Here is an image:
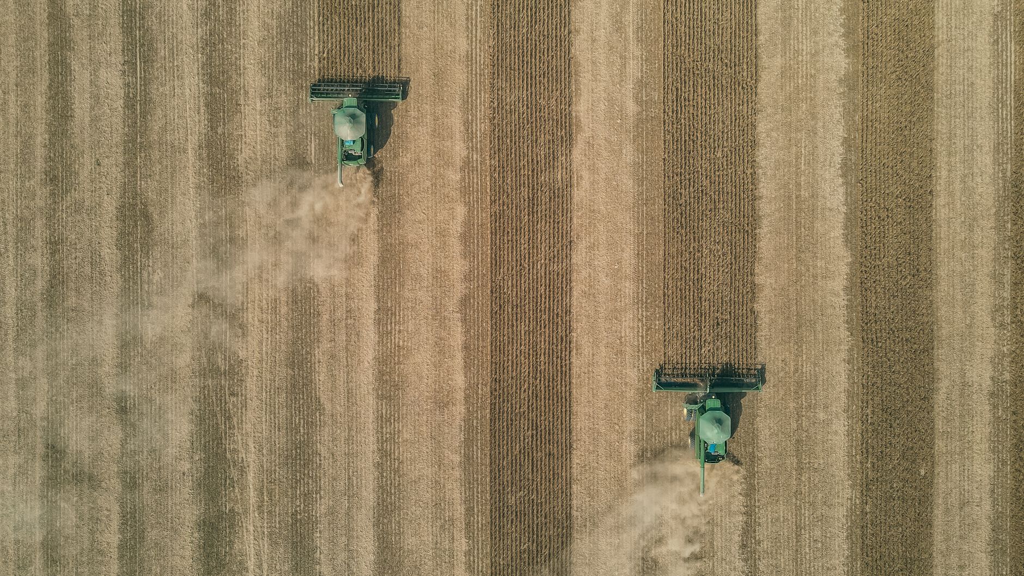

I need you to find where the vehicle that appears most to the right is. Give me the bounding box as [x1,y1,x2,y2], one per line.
[651,370,764,498]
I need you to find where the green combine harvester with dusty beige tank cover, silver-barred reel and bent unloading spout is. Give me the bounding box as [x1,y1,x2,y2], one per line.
[308,83,406,188]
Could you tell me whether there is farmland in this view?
Yes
